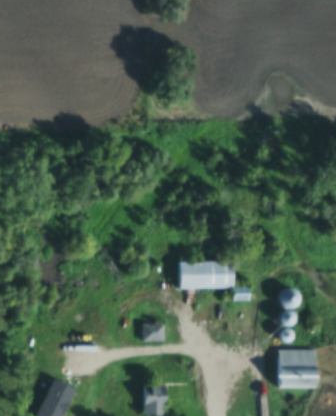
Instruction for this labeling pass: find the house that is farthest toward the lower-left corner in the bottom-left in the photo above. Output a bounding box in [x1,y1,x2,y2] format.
[36,378,76,416]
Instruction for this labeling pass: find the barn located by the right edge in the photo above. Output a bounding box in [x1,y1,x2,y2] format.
[276,350,320,388]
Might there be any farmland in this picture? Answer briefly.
Yes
